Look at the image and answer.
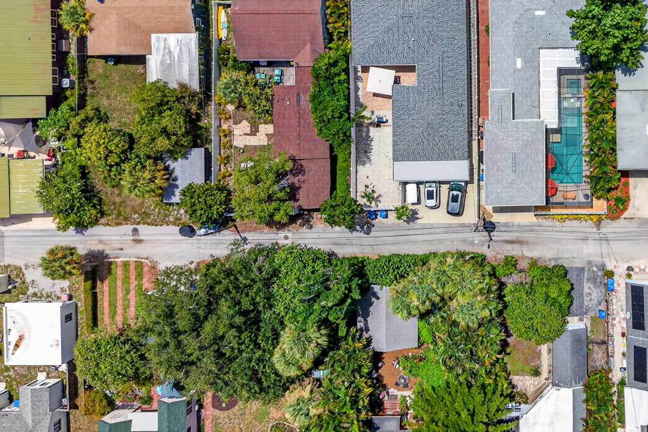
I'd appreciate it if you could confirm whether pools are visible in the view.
Yes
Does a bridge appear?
No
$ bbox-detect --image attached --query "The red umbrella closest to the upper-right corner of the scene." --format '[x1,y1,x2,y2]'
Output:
[544,154,557,171]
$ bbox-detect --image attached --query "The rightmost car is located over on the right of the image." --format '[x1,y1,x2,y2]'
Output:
[447,180,469,218]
